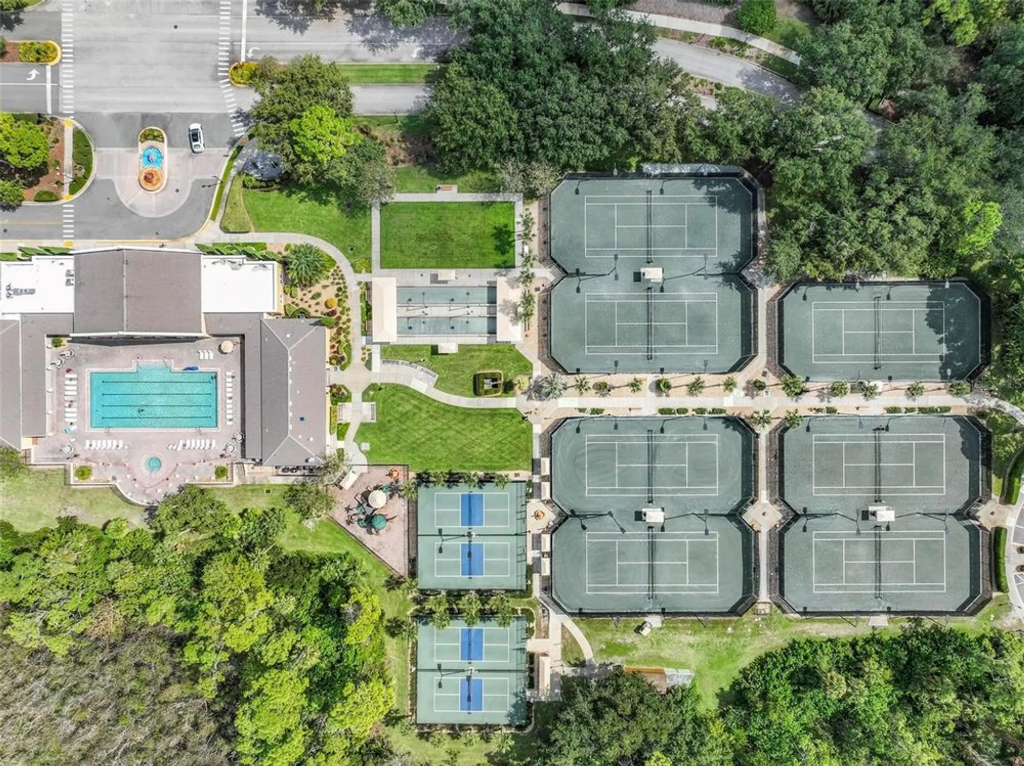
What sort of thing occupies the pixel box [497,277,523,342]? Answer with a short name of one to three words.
building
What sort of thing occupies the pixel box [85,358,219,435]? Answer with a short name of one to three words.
swimming pool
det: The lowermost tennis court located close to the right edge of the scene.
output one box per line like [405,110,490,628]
[785,514,980,610]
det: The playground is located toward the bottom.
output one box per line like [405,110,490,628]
[326,466,408,573]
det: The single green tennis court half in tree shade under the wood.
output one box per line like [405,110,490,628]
[784,283,978,379]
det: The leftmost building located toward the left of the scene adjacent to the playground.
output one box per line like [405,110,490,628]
[0,244,332,466]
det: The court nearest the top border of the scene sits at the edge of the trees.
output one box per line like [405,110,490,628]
[551,178,751,274]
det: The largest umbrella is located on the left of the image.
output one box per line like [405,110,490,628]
[221,340,234,354]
